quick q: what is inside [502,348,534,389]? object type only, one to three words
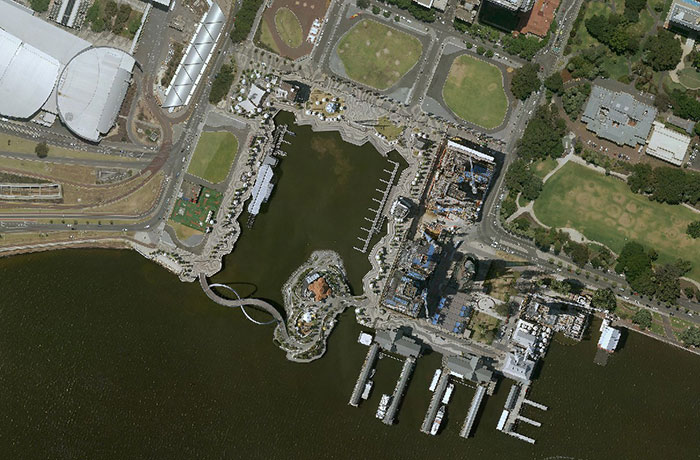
house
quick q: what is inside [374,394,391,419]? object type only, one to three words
boat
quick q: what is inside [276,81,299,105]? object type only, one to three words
building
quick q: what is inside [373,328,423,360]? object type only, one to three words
building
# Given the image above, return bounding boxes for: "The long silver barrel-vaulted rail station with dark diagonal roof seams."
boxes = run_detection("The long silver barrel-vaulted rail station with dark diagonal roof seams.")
[163,0,225,114]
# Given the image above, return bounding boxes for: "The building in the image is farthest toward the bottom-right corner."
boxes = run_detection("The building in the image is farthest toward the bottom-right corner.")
[597,319,623,353]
